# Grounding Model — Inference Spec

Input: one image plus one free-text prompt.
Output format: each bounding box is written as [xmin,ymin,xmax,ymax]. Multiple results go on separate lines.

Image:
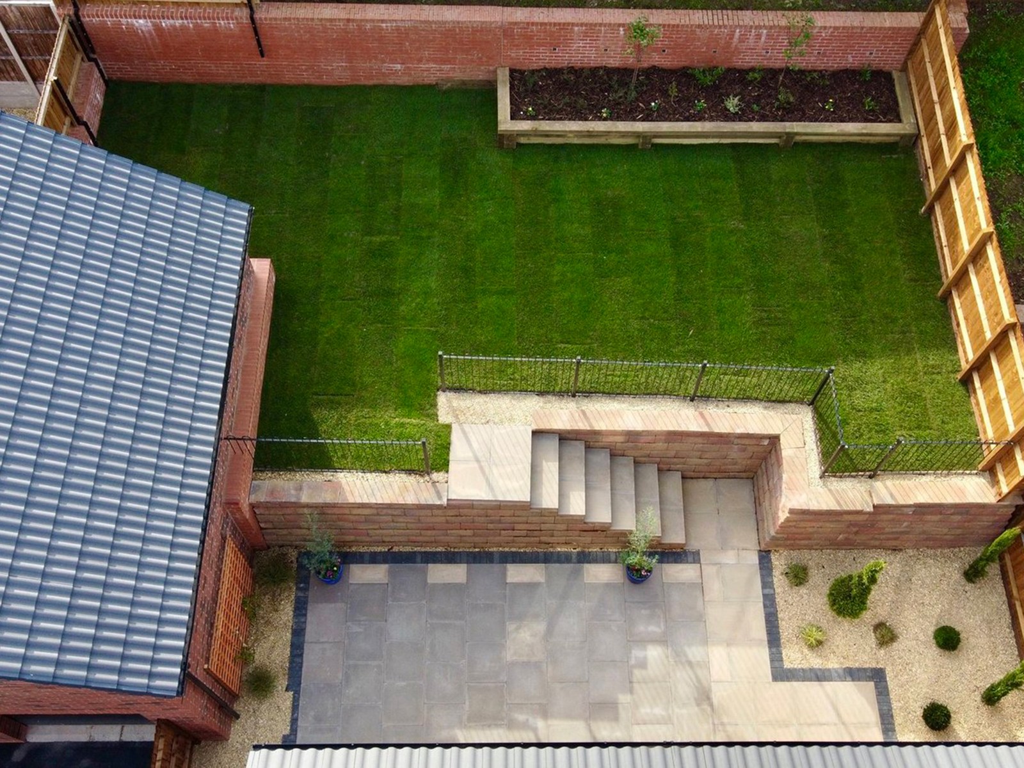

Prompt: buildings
[0,117,259,741]
[251,735,1024,768]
